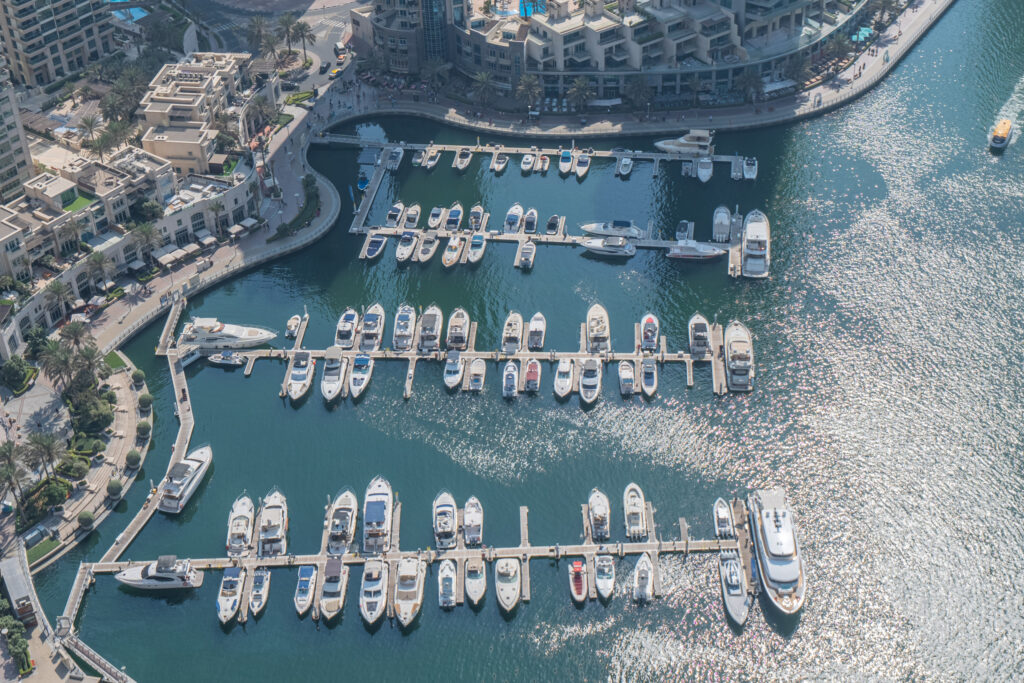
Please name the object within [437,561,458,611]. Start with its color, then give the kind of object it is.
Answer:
white boat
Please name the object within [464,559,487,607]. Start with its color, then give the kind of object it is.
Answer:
white boat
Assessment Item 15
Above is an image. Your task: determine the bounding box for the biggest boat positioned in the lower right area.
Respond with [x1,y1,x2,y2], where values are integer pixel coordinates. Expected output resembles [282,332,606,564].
[748,487,808,615]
